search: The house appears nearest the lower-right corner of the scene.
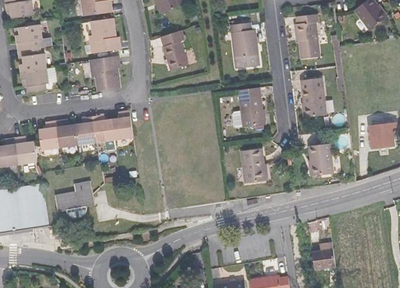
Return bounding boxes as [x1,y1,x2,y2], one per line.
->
[312,242,336,271]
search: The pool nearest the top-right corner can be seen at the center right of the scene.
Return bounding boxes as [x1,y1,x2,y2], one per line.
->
[332,112,348,128]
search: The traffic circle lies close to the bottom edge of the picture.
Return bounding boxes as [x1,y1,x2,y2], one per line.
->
[92,246,148,288]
